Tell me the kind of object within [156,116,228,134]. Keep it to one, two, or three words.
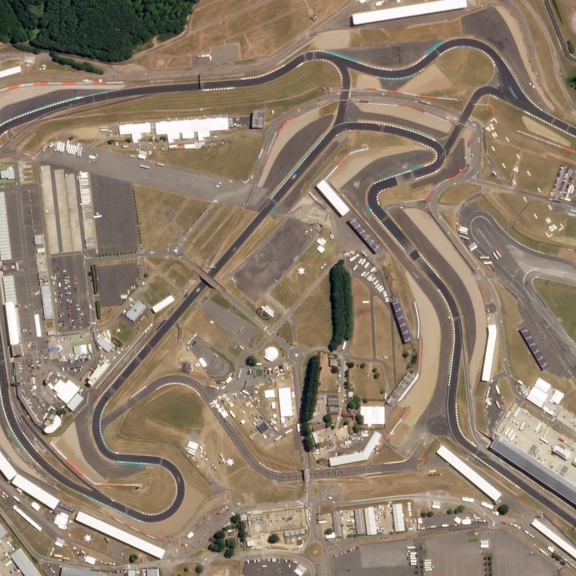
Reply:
tent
